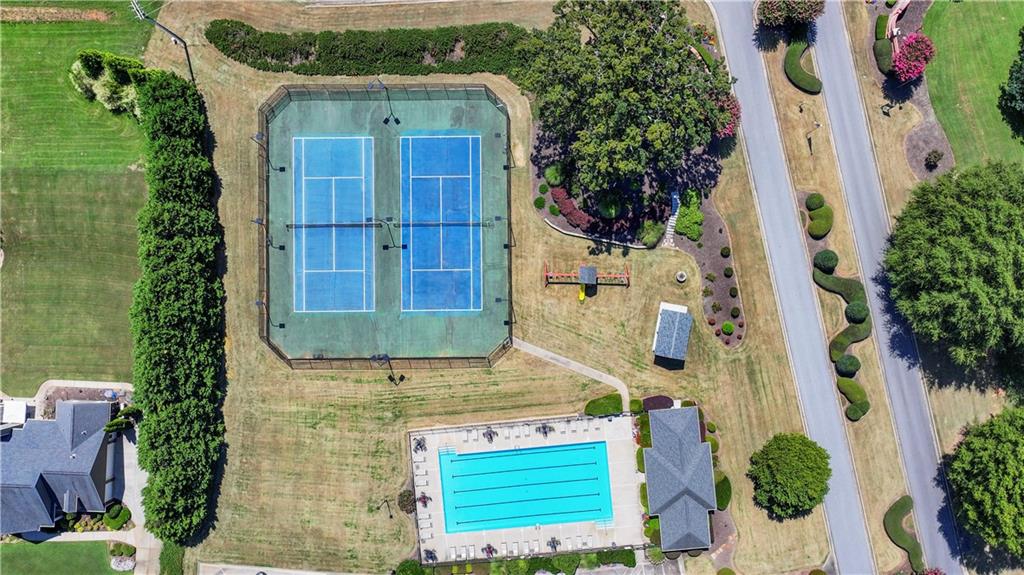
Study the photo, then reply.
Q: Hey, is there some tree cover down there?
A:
Yes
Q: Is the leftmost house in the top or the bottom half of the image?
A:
bottom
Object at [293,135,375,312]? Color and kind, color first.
blue tennis court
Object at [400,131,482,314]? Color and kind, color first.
blue tennis court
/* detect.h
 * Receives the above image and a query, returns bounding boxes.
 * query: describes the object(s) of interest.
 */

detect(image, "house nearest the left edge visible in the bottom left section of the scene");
[0,400,119,533]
